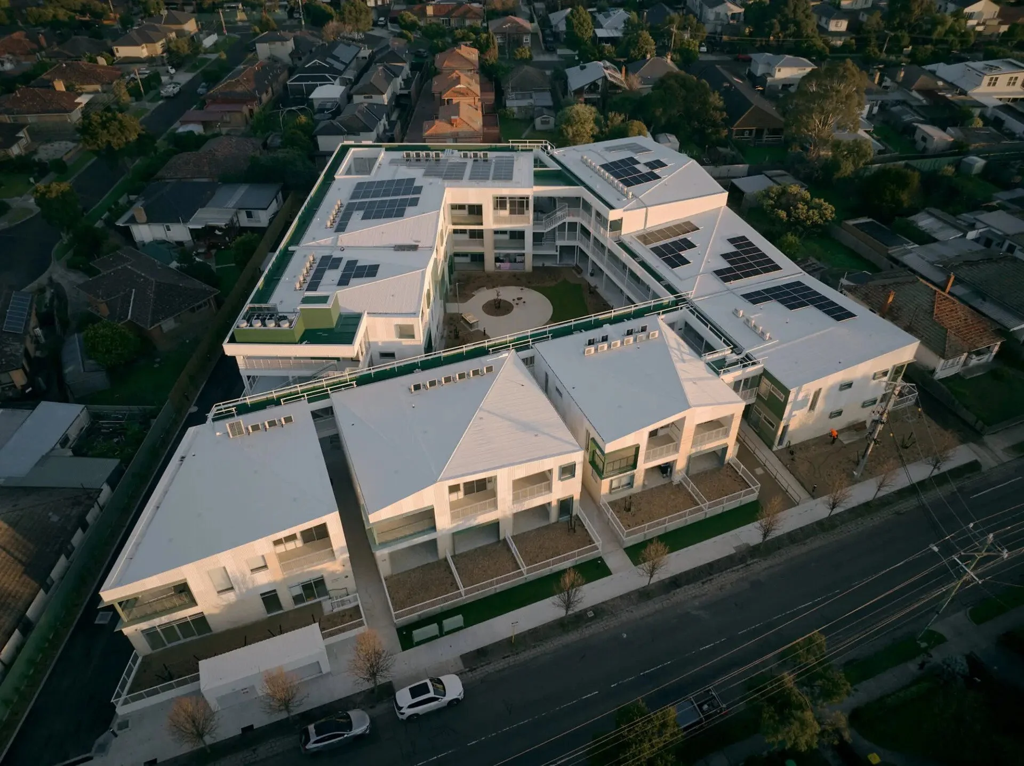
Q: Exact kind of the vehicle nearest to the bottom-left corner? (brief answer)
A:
automobile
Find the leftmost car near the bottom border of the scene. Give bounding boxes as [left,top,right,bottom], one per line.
[298,711,372,763]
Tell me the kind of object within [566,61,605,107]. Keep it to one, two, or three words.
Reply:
shed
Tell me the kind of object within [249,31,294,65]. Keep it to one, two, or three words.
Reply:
house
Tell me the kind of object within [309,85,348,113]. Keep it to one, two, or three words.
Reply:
house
